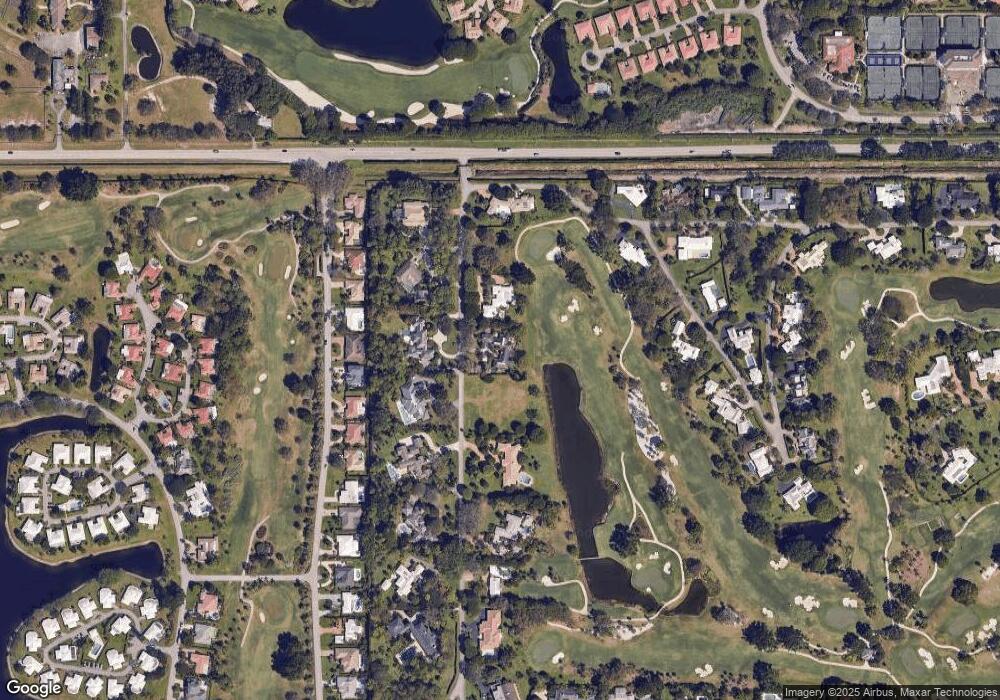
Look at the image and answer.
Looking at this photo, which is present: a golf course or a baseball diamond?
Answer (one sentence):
It is a golf course that can be seen here.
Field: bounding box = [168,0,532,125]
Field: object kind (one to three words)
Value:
golf course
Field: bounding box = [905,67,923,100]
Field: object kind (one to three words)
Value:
tennis court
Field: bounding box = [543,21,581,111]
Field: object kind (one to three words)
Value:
pond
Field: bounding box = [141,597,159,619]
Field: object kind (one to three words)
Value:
house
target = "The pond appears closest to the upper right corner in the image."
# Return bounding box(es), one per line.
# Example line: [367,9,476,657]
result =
[931,277,1000,311]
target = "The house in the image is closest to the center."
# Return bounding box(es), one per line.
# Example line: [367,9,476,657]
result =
[476,328,520,369]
